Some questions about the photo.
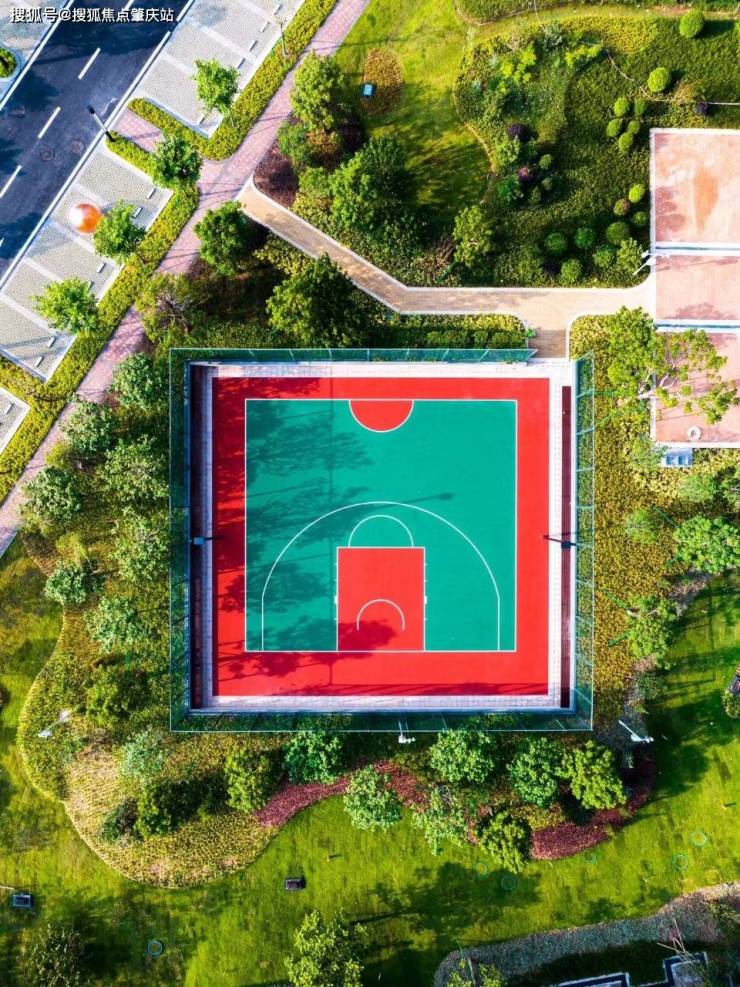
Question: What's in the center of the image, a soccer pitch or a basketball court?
basketball court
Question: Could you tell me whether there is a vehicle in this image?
No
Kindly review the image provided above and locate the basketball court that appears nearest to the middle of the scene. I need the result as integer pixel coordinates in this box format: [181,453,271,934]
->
[213,378,549,697]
